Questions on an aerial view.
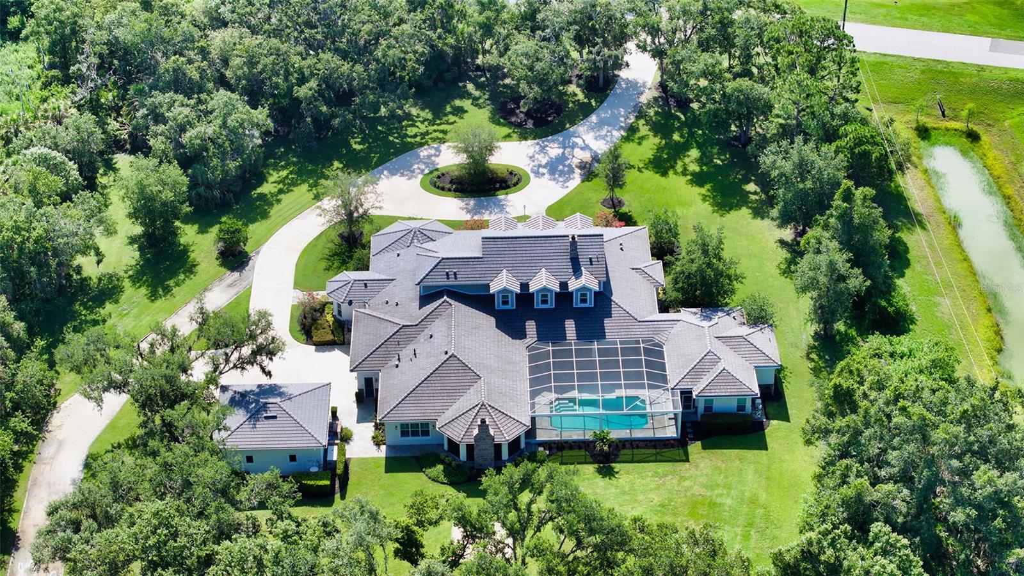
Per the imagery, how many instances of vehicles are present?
zero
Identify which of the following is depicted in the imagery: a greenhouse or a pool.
pool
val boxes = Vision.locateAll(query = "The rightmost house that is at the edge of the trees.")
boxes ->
[325,212,781,473]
